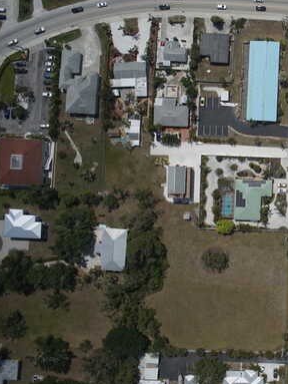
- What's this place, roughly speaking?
residential area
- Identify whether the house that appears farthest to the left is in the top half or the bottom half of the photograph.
bottom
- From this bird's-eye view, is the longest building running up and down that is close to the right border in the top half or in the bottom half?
top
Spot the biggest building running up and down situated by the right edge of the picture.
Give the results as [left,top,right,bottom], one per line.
[246,39,285,122]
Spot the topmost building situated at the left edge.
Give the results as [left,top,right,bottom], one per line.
[0,139,55,185]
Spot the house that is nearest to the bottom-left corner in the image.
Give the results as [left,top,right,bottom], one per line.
[0,359,25,384]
